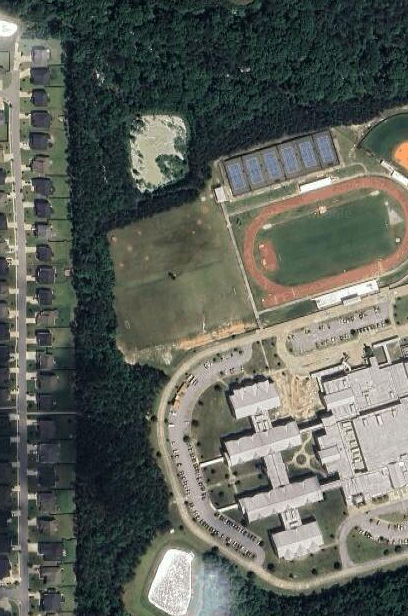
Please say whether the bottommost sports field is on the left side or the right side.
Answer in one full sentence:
The bottommost sports field sits on the right side.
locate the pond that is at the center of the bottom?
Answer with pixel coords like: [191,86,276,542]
[148,549,192,616]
